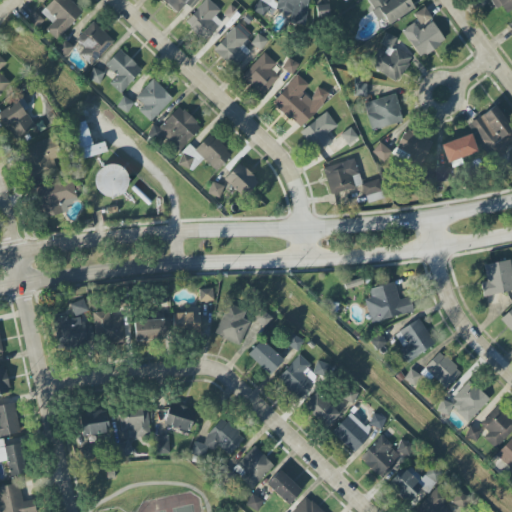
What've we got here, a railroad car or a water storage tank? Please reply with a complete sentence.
Of the two, only a water storage tank appears.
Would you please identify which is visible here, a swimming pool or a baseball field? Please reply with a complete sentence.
The image shows a swimming pool.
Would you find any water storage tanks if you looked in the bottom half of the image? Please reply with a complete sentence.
No, no water storage tank appears in the bottom half of the image.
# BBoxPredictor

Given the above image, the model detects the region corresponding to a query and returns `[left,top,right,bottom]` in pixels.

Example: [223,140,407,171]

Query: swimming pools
[172,288,197,304]
[353,16,381,43]
[70,48,88,70]
[350,302,366,324]
[66,200,83,222]
[274,14,286,33]
[448,410,466,430]
[356,408,370,426]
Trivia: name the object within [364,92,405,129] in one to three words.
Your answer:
house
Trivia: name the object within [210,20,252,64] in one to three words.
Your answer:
house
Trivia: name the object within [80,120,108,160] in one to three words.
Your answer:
building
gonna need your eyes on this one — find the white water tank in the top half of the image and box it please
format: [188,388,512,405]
[95,164,128,196]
